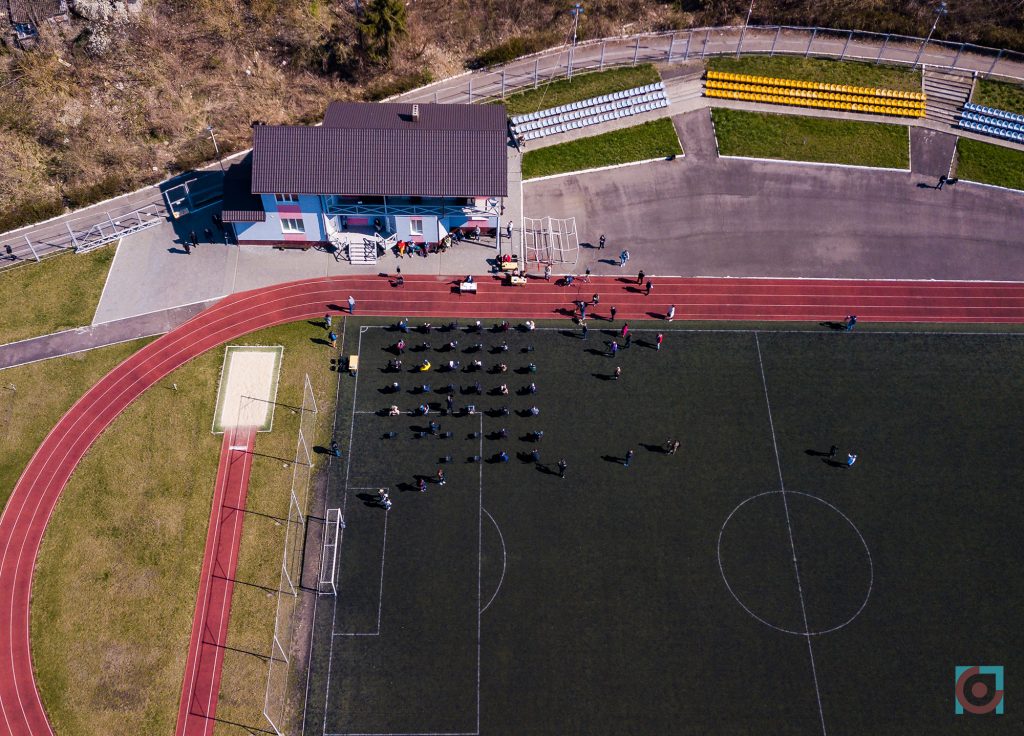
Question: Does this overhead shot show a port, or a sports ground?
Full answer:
What you see here is a sports ground.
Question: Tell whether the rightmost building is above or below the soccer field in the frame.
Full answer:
In the image, the rightmost building sits above the soccer field.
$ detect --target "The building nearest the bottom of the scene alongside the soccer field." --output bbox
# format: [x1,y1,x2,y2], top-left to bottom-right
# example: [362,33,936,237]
[221,102,507,264]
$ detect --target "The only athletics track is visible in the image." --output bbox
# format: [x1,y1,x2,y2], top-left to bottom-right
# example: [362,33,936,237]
[0,274,1024,736]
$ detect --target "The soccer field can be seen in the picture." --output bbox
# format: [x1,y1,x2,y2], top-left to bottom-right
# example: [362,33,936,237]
[302,317,1024,736]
